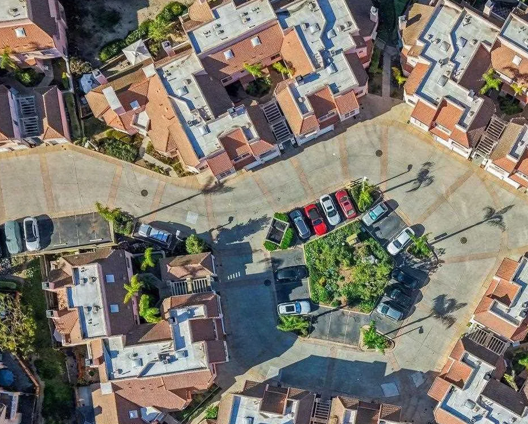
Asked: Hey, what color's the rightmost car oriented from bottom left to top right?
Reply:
white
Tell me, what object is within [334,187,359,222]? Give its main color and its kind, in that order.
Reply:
red car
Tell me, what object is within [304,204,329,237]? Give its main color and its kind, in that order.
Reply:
red car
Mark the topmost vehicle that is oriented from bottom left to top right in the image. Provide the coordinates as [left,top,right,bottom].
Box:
[359,200,392,228]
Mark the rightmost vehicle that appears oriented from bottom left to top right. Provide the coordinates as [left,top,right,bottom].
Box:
[386,224,415,257]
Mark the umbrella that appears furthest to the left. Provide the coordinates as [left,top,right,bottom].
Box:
[0,365,18,387]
